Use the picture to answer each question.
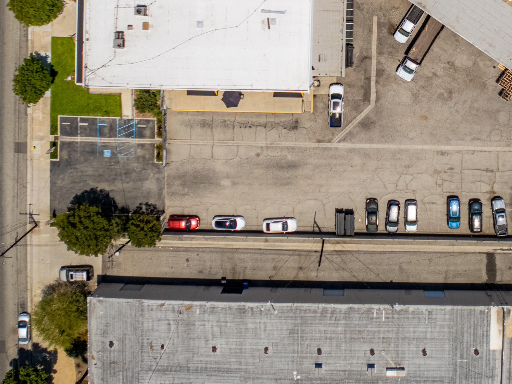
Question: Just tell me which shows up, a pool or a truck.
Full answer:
Of the two, only a truck appears.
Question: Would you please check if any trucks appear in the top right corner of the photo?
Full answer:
Yes, looking in the top right corner of the photo, one can make out a truck.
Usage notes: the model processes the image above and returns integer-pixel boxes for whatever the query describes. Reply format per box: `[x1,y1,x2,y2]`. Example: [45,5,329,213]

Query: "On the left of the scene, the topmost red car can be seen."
[167,215,201,232]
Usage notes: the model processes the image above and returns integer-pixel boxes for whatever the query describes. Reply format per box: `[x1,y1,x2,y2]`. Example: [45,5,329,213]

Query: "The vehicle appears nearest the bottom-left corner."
[16,311,33,345]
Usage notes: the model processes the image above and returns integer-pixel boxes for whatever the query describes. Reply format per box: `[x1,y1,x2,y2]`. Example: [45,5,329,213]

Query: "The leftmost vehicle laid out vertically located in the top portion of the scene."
[328,83,345,128]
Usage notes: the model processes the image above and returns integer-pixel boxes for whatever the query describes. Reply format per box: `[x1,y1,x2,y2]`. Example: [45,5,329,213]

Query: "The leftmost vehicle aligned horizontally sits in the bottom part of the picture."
[59,265,95,282]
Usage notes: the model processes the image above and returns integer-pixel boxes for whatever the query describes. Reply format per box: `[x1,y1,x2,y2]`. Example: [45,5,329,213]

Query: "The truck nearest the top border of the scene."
[392,3,423,46]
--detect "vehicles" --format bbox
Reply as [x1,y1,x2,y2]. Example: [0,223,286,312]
[167,215,201,232]
[364,197,380,232]
[212,215,247,230]
[328,83,345,128]
[492,197,508,236]
[263,217,297,234]
[392,3,423,46]
[467,198,484,233]
[445,195,462,228]
[384,199,400,234]
[59,265,95,282]
[16,311,33,345]
[403,198,419,233]
[399,17,444,80]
